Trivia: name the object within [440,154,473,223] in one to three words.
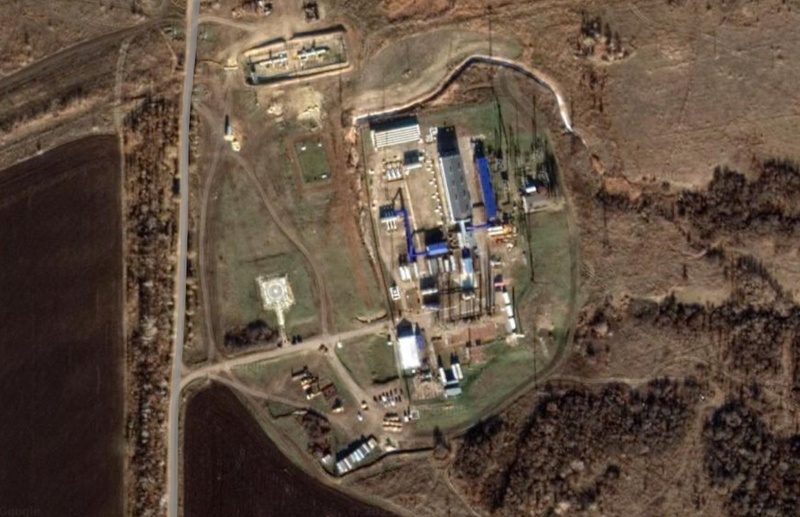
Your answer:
building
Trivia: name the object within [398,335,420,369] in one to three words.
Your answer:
building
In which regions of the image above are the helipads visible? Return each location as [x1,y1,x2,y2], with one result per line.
[262,278,293,326]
